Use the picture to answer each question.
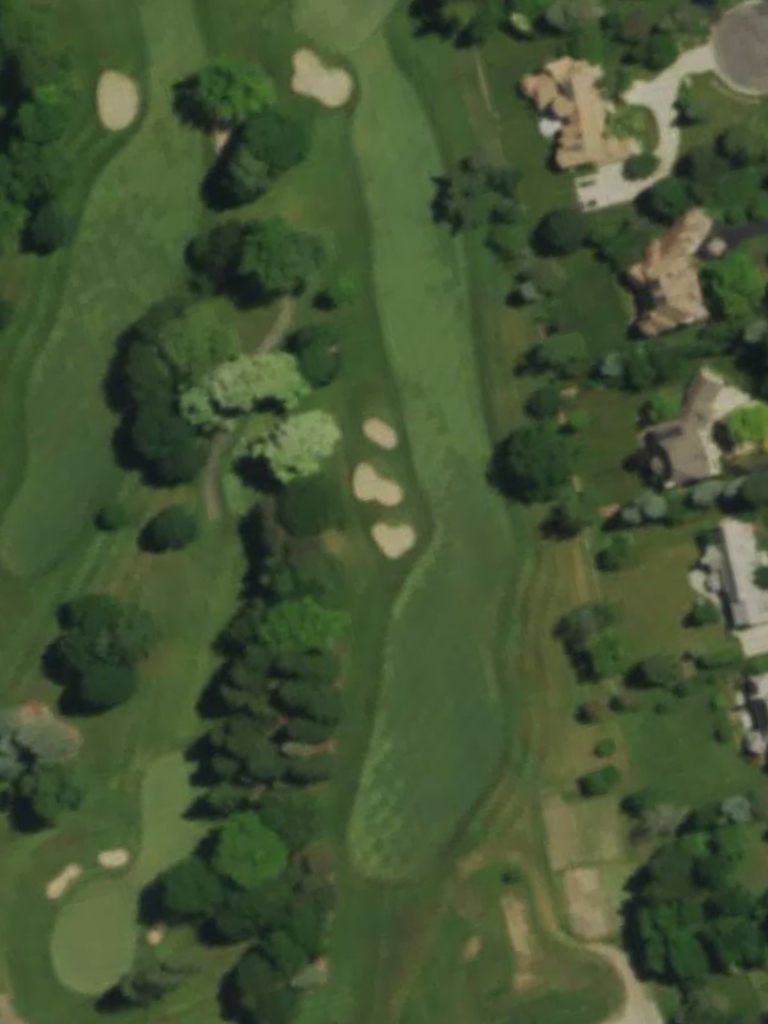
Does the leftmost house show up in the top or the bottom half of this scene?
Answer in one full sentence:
The leftmost house sits in the top half of the picture.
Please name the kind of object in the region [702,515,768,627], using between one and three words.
house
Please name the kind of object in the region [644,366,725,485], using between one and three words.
house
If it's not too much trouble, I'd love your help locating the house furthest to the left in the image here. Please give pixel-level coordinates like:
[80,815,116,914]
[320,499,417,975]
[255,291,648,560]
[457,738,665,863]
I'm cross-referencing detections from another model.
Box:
[520,54,642,170]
